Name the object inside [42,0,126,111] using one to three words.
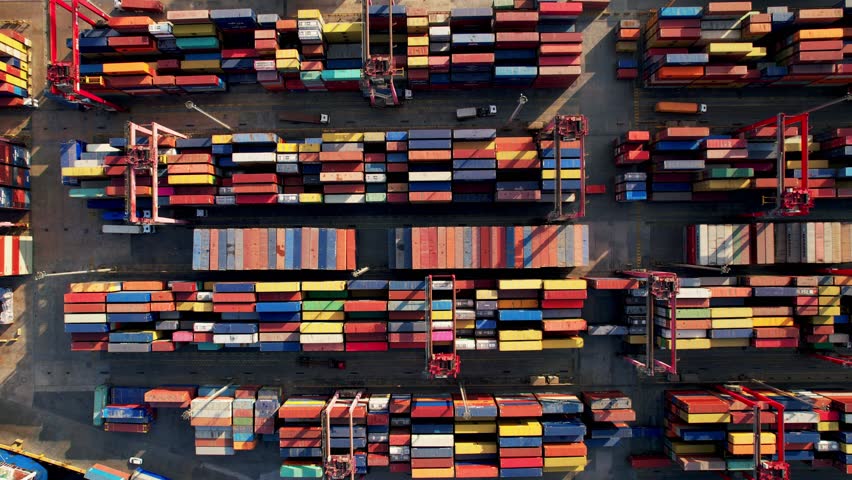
container crane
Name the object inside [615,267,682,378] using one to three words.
container crane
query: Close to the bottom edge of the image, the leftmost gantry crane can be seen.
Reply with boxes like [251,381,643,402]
[324,384,369,480]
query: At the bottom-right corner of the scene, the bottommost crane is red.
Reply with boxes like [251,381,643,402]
[710,380,793,480]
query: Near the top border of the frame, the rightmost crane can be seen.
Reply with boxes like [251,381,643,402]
[360,0,408,109]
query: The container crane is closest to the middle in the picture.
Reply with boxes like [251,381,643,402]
[424,269,462,382]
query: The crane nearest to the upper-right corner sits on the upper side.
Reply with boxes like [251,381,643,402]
[727,109,814,220]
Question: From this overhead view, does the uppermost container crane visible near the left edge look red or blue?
red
